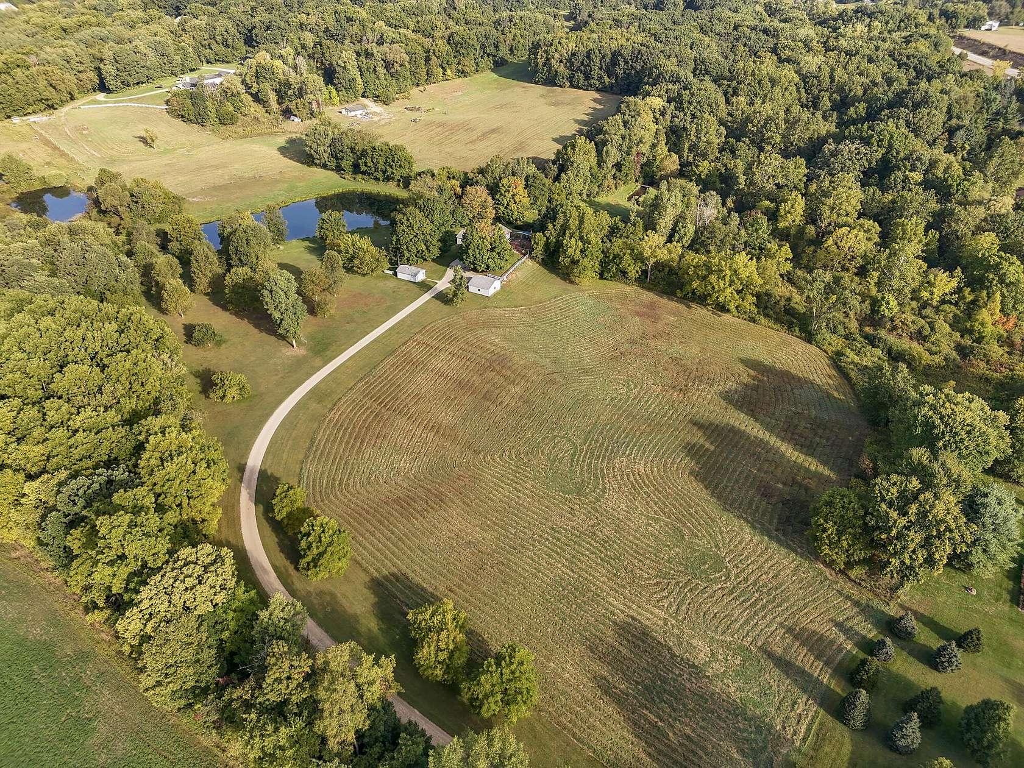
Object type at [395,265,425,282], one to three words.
shed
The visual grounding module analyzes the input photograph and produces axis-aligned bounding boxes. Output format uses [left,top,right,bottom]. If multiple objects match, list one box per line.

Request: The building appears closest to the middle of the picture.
[467,275,502,296]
